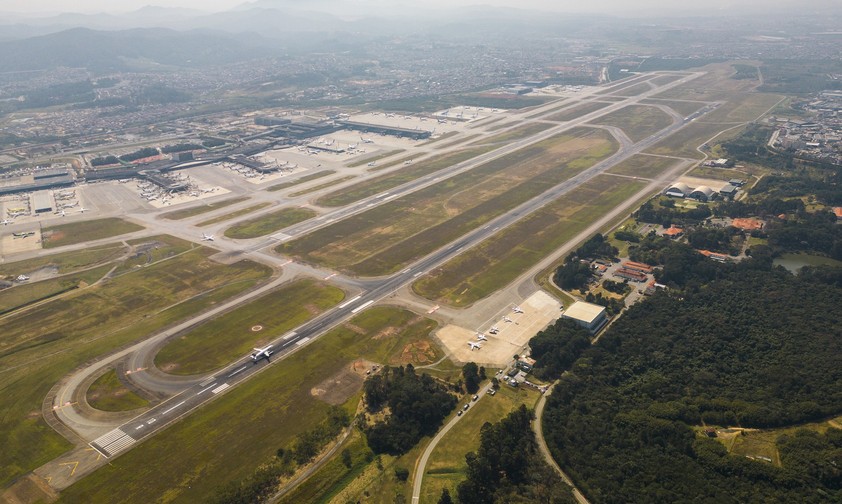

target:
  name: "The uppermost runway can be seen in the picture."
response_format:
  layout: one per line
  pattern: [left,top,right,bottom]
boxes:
[210,71,709,264]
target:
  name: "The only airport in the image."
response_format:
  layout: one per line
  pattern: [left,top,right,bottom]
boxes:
[0,71,733,488]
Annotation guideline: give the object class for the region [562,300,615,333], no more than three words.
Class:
building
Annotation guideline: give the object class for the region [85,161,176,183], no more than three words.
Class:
building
